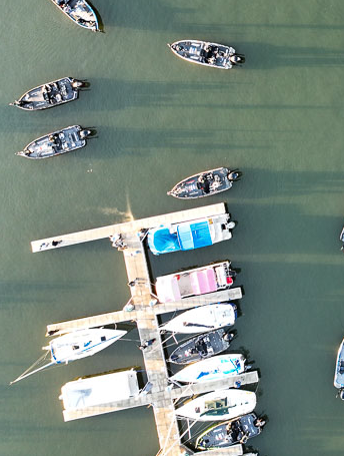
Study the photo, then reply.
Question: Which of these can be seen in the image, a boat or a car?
boat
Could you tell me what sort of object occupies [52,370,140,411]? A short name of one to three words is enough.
boat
